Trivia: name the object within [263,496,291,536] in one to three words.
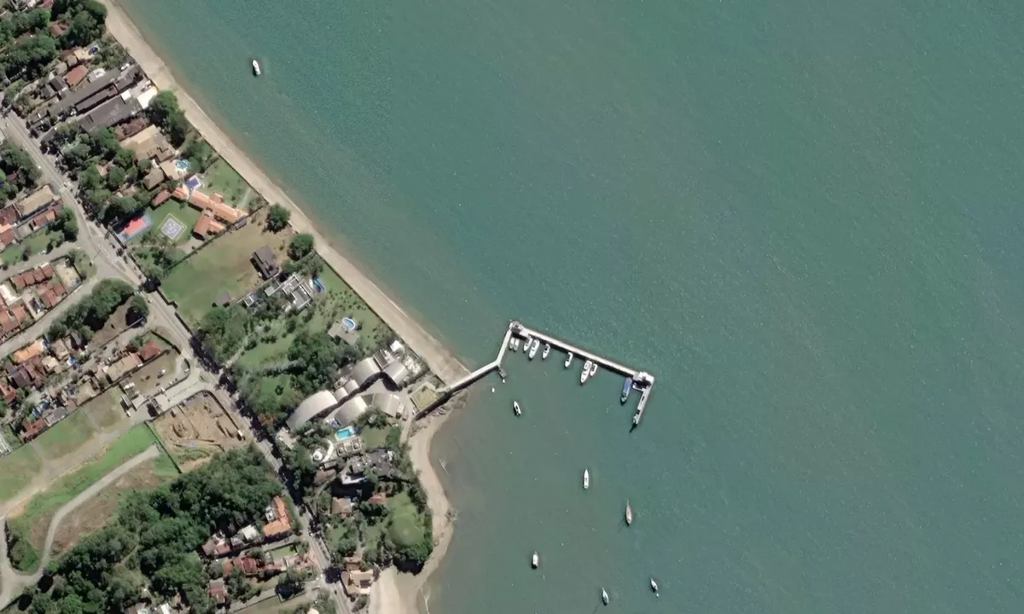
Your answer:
house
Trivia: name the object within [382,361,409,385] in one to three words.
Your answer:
hangar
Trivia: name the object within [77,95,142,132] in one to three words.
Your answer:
building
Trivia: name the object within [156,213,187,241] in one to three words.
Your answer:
helipad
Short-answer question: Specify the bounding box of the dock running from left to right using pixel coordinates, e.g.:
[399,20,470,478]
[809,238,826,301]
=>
[445,320,654,424]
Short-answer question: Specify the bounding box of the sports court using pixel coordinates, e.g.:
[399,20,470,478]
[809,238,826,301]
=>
[115,208,153,243]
